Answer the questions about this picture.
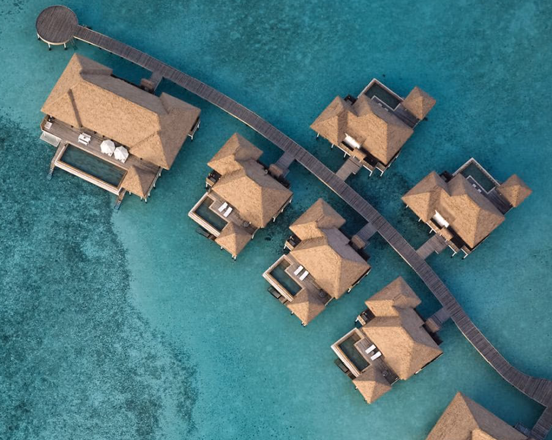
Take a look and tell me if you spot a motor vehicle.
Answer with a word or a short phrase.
No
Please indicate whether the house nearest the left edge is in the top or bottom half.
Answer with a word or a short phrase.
top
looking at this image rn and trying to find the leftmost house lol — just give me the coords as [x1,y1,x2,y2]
[39,52,201,210]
